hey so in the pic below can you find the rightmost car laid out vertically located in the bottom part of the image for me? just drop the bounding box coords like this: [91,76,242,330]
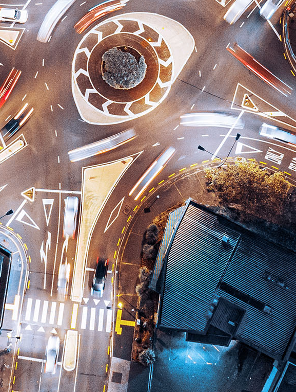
[92,260,106,291]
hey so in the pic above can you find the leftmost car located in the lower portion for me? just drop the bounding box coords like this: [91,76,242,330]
[45,337,59,369]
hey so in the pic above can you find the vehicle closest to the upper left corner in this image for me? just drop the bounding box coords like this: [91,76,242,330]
[0,8,28,22]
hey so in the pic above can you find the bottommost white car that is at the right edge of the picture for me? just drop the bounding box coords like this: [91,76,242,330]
[263,125,296,144]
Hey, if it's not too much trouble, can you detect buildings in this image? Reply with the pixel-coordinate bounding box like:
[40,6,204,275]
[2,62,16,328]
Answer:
[0,238,17,330]
[153,197,296,358]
